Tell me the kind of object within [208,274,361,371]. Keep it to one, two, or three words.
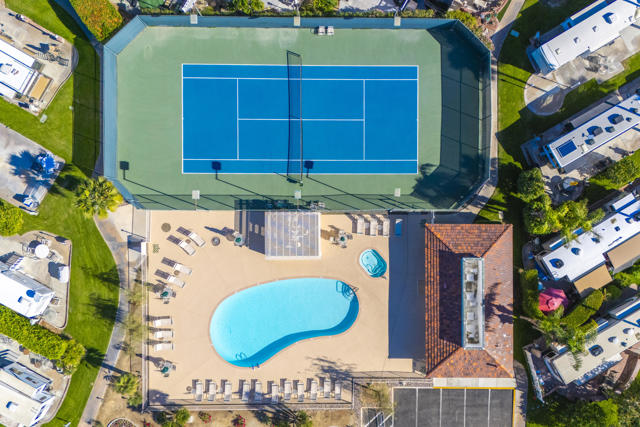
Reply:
swimming pool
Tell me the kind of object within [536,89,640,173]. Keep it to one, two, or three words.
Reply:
camper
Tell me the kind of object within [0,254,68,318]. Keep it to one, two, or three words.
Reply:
trailer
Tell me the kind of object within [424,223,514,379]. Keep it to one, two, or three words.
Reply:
building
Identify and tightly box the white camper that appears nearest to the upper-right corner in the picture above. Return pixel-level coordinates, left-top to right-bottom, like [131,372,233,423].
[529,0,640,76]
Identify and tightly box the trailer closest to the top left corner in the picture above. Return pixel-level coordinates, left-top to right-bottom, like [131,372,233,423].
[0,36,51,101]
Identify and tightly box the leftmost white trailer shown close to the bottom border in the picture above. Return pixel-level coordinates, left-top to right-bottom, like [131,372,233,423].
[0,354,59,426]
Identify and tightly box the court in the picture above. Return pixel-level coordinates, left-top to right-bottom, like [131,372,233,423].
[114,26,482,209]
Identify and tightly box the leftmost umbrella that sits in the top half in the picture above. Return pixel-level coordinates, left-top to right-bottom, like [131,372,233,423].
[44,157,62,172]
